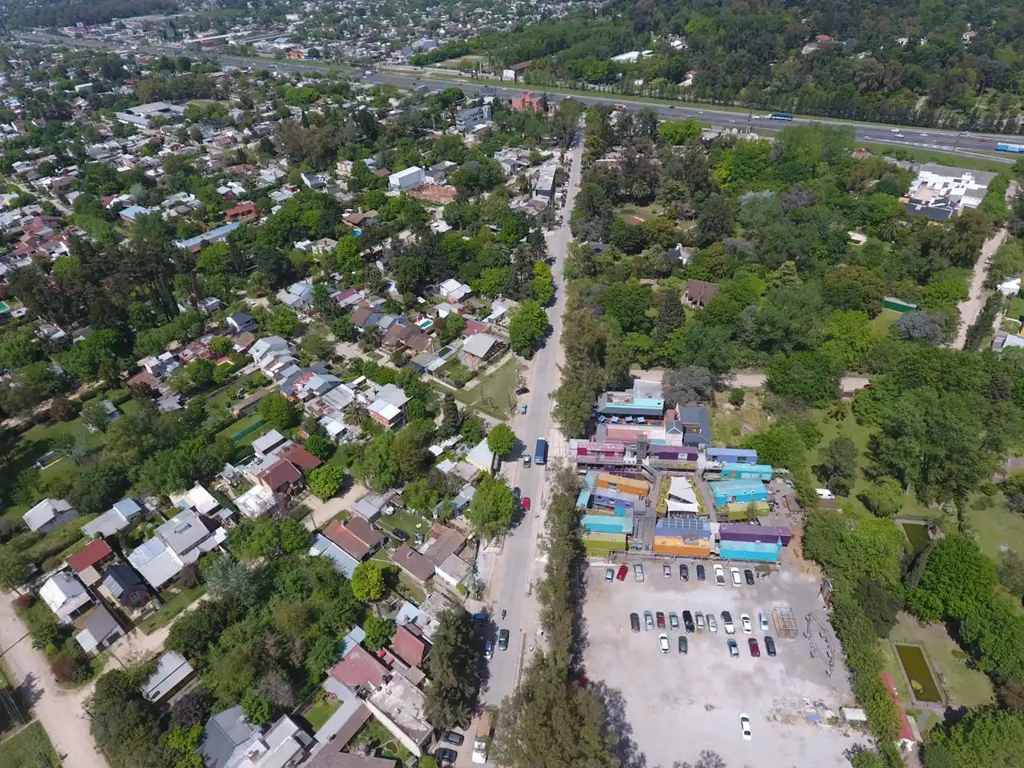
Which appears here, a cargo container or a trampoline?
cargo container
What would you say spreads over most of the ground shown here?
trees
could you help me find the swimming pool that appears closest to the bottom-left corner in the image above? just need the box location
[35,449,63,469]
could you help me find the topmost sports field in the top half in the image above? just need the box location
[432,56,490,74]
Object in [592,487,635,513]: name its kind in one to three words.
shipping container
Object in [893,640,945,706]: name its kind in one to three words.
pond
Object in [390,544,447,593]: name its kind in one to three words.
house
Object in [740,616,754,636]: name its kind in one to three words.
car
